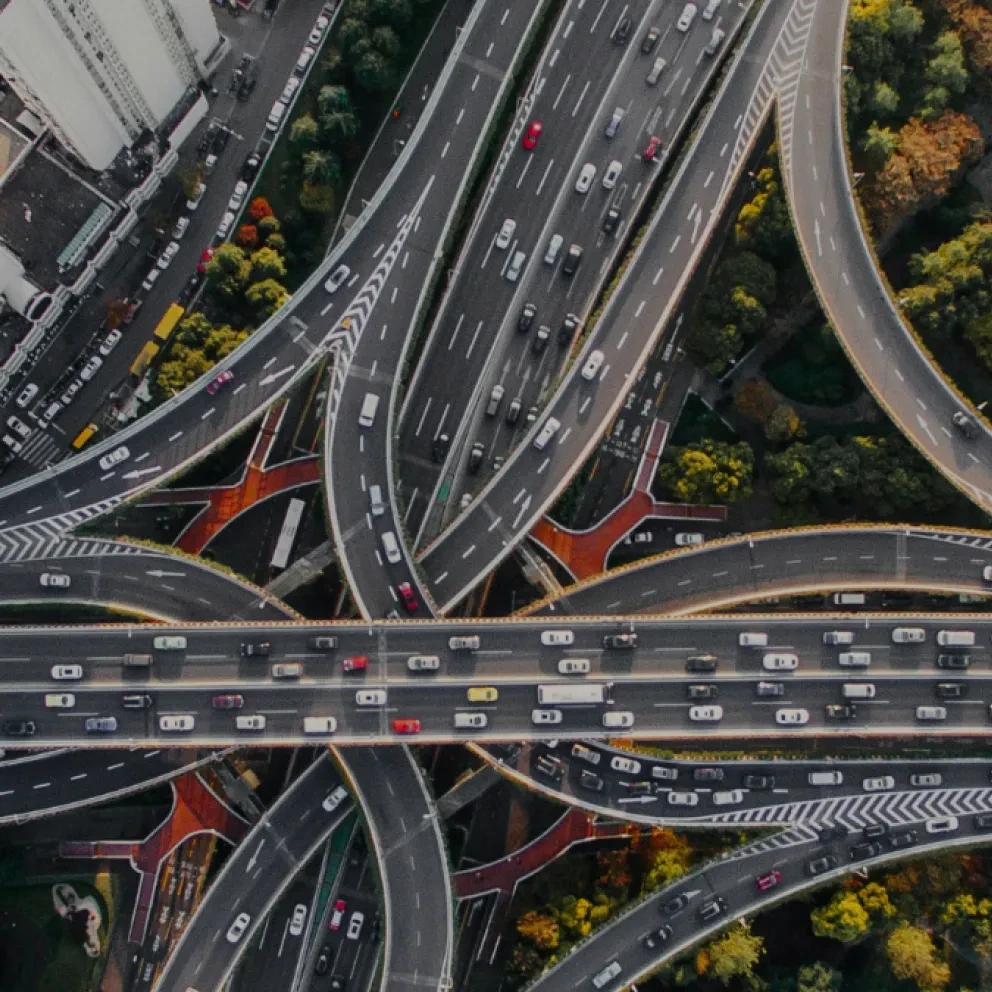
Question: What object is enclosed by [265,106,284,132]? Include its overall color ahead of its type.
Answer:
white vehicle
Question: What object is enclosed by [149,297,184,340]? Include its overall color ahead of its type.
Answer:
yellow truck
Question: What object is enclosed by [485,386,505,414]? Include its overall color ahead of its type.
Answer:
gray car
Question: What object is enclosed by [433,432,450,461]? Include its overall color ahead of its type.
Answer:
black car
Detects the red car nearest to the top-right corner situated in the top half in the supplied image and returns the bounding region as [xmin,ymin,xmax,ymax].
[643,137,661,161]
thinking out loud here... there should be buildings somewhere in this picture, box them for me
[0,131,126,358]
[0,0,222,170]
